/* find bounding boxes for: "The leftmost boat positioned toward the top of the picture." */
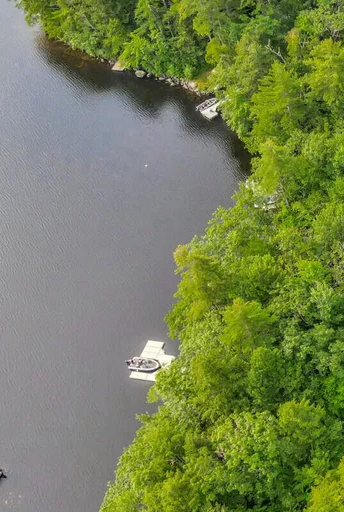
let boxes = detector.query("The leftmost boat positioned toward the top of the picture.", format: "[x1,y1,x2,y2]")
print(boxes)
[193,99,216,113]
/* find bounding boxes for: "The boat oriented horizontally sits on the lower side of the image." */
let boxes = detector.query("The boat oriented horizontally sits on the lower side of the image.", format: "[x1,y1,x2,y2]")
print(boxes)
[126,357,162,372]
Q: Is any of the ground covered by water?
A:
Yes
